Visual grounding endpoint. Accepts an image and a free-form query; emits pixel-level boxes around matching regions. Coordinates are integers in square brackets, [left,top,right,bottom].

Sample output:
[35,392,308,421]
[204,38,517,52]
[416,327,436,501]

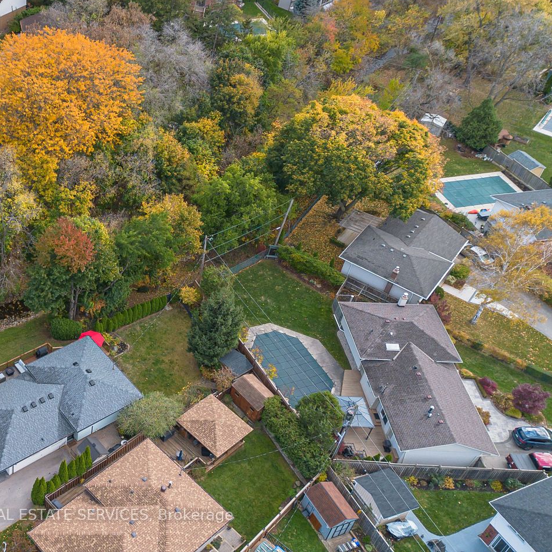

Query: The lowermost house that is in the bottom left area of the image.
[27,438,234,552]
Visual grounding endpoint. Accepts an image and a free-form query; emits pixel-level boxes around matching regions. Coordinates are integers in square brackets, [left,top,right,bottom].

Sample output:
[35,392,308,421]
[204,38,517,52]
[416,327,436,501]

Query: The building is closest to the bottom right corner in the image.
[484,476,552,552]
